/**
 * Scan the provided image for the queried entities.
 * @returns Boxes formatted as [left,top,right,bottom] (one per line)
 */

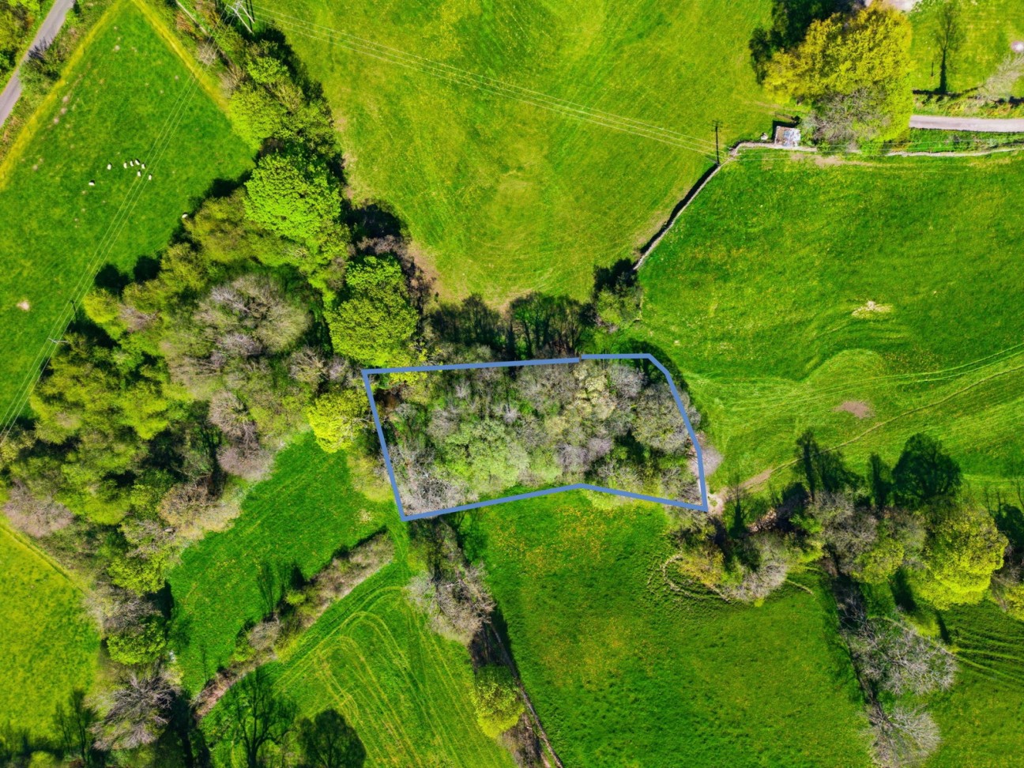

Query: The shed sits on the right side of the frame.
[772,127,801,149]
